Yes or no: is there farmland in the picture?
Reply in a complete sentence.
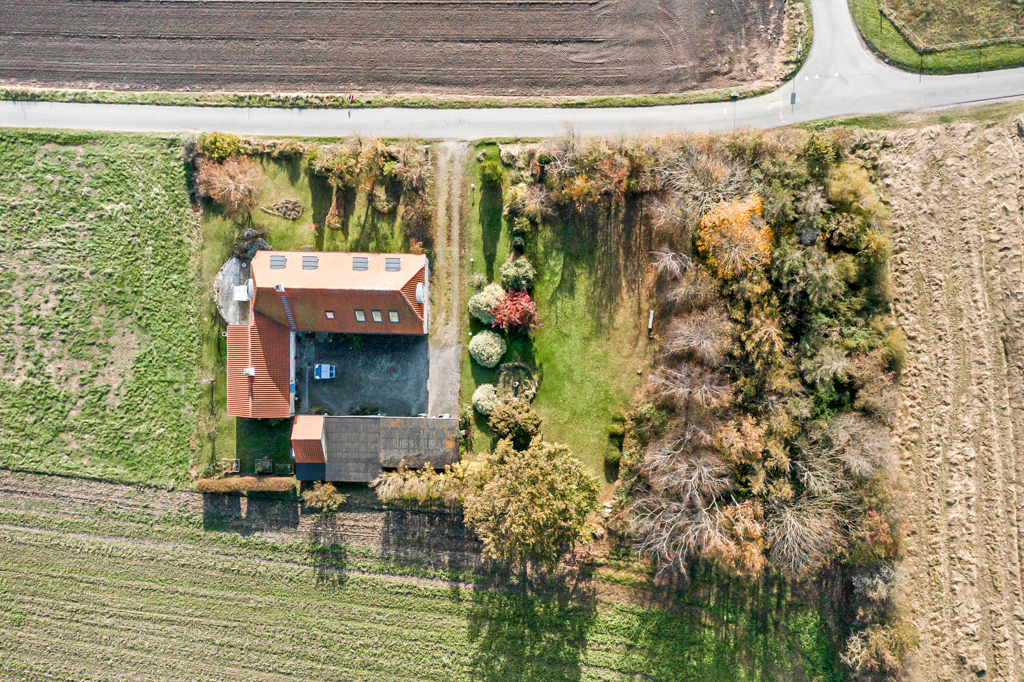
Yes, farmland shows up in the scene.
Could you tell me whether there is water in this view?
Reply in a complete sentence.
No, water can't be seen anywhere here.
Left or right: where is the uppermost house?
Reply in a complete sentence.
The uppermost house sits on the left side.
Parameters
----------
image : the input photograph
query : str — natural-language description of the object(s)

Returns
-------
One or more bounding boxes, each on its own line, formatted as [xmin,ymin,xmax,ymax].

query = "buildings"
[227,249,428,420]
[290,414,459,481]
